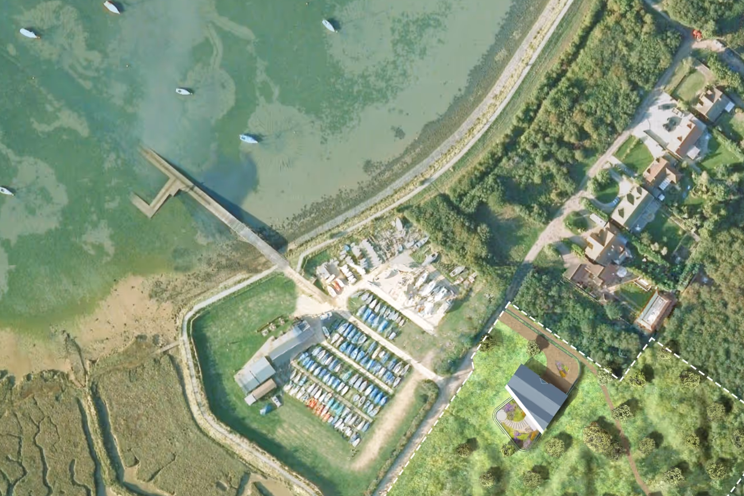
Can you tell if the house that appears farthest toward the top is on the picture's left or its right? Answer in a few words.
right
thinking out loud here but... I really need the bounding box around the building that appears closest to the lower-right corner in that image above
[636,292,672,332]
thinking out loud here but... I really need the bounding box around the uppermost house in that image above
[698,90,734,122]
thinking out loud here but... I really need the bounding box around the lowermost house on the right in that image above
[505,365,569,435]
